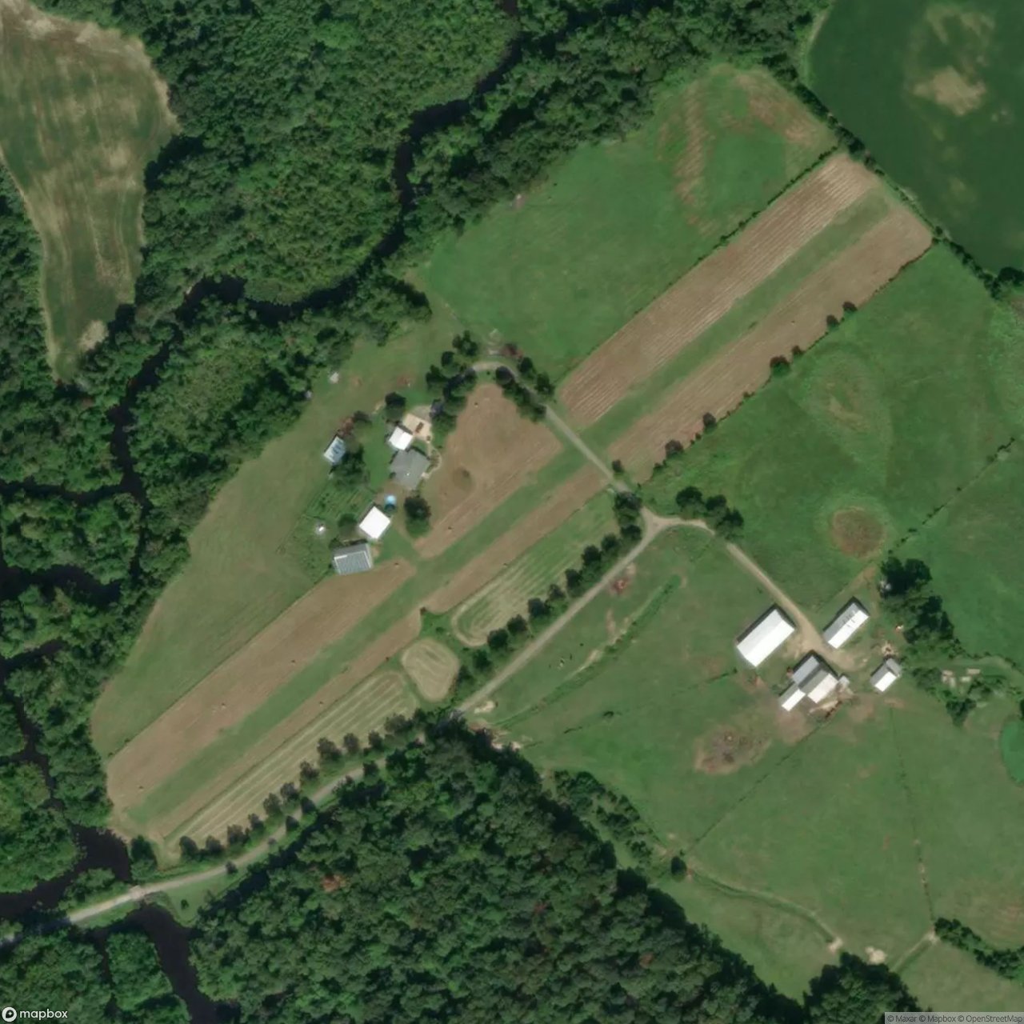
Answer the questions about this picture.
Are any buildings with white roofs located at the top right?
No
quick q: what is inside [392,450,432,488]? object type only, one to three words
house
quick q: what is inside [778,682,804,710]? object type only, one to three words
shed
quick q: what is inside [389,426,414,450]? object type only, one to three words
building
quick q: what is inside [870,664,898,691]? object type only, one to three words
barn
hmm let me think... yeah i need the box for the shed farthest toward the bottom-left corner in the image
[333,543,373,575]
